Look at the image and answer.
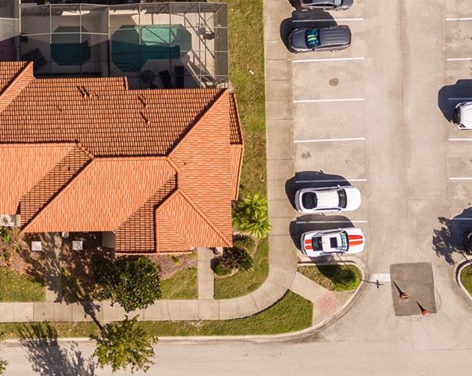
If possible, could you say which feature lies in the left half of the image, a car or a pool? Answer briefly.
pool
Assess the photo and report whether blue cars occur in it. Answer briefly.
No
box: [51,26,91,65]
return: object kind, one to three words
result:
swimming pool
